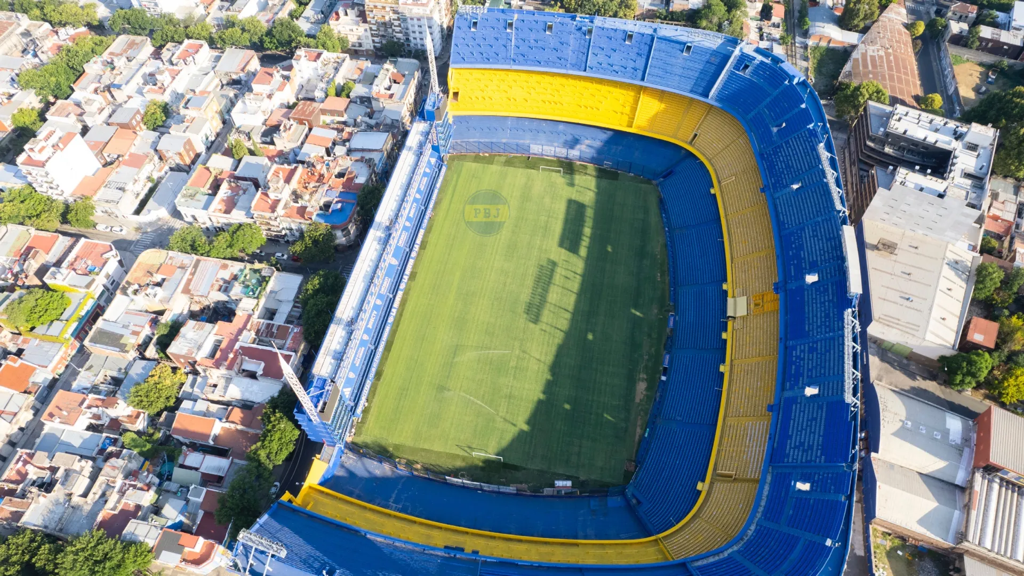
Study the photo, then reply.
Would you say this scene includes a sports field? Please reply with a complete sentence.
Yes, a sports field appears in the view.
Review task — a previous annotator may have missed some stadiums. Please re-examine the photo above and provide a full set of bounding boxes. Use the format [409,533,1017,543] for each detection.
[224,8,861,576]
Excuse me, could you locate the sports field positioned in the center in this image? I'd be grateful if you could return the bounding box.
[363,161,653,482]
